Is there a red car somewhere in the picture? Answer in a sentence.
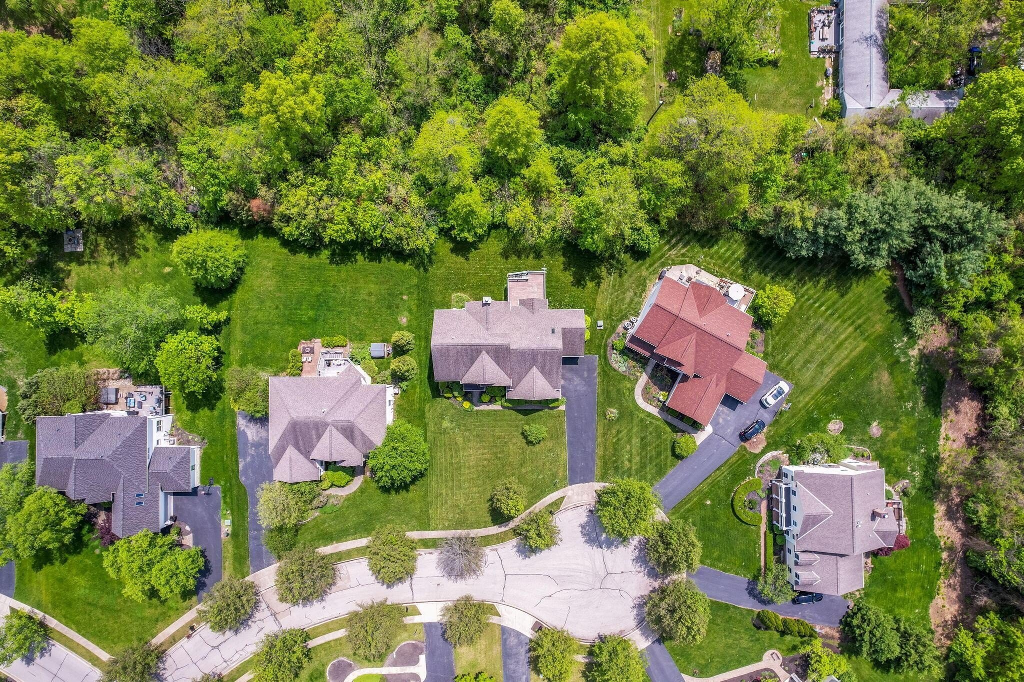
No, no red car is visible in the view.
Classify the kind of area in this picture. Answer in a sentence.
What you see here is a residential area.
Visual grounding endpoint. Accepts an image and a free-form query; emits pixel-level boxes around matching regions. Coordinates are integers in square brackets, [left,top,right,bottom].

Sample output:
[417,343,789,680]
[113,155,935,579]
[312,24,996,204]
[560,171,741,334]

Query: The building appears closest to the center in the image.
[431,297,586,401]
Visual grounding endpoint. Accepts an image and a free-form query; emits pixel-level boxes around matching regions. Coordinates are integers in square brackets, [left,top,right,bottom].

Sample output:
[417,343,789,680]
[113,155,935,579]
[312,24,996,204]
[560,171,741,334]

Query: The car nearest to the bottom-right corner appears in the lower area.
[790,591,823,607]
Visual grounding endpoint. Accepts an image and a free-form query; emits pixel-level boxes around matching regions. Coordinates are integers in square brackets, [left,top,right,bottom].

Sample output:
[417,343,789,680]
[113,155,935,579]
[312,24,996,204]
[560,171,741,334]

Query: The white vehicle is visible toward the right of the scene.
[759,379,791,411]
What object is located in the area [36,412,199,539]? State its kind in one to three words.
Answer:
house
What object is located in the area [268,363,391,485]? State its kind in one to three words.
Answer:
house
